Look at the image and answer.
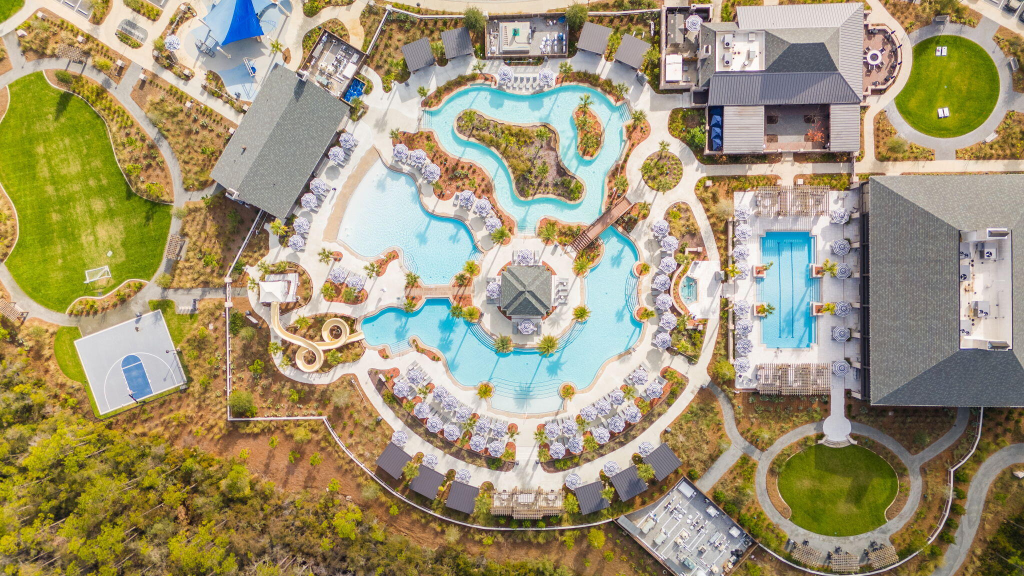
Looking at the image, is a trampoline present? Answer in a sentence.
No, no trampoline can be seen from above.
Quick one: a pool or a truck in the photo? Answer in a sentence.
I can see a pool in this picture.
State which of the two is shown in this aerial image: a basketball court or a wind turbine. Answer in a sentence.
This aerial view contains a basketball court.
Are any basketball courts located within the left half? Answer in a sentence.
Yes, a basketball court shows up within the left half.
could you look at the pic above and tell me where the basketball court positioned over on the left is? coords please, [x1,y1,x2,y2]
[74,309,187,415]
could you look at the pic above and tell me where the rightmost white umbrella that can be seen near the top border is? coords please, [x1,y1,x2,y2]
[685,15,702,32]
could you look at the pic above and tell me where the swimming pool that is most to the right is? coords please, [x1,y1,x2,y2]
[754,229,822,350]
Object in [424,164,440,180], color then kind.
white umbrella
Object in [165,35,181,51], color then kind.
white umbrella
